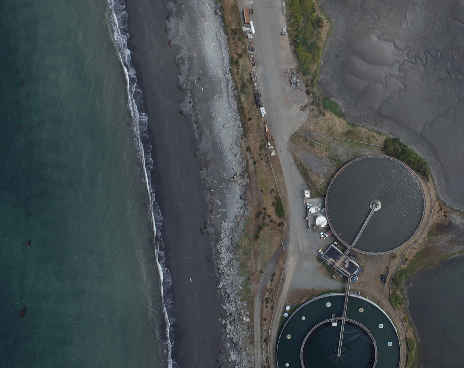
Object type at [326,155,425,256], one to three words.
storage tank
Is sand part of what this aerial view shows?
Yes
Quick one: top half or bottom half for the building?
bottom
